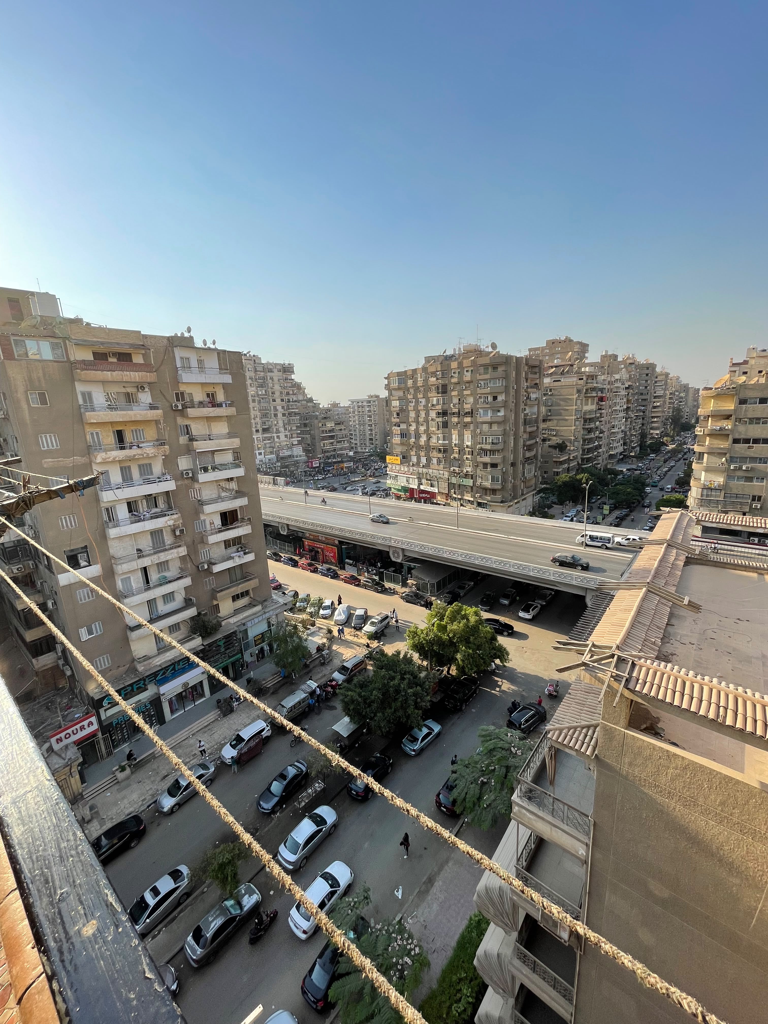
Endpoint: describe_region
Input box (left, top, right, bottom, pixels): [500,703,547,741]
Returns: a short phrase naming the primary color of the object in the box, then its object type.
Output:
black car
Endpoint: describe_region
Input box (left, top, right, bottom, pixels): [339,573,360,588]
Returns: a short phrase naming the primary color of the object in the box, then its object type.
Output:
red car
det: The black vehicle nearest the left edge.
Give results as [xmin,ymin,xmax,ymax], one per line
[88,806,148,865]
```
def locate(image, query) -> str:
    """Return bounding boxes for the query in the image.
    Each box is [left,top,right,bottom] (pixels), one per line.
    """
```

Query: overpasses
[259,477,763,610]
